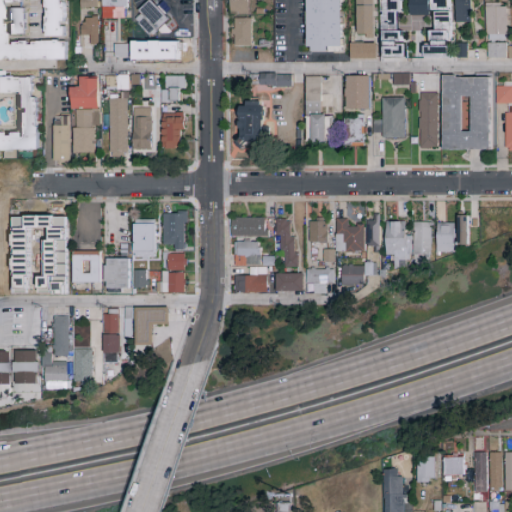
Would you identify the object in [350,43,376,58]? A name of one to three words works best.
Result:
building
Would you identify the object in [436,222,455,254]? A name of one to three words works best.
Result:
house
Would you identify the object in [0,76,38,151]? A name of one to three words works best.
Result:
building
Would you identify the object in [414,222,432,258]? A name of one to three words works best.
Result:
house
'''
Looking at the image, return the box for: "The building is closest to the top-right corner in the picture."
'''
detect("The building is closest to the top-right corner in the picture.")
[486,3,508,42]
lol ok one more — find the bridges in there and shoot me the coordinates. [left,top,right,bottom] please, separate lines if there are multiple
[120,346,218,512]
